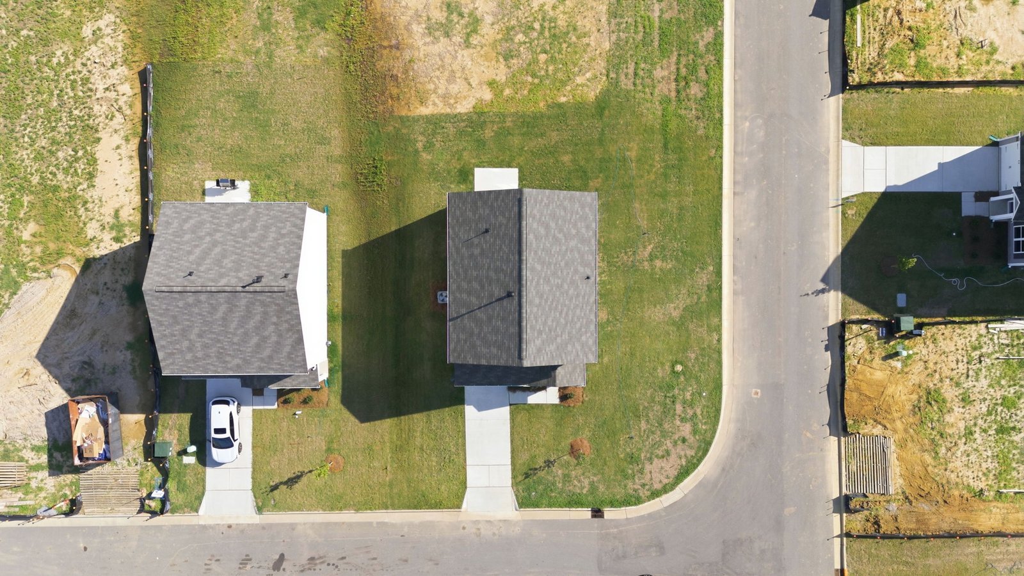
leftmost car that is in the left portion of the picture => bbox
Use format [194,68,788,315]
[207,396,243,463]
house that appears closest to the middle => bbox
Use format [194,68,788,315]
[446,188,599,388]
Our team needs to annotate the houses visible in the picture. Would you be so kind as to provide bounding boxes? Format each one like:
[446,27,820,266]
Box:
[988,130,1024,265]
[446,188,599,388]
[142,200,328,389]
